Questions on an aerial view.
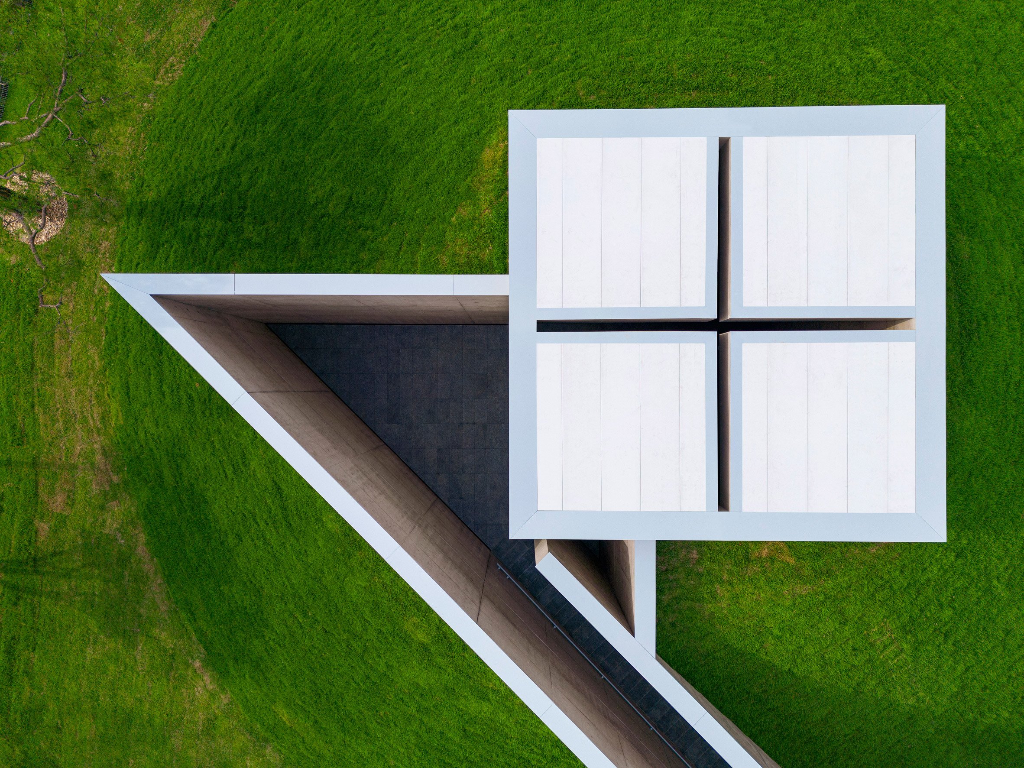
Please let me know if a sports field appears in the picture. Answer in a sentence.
No, the scene contains no sports field.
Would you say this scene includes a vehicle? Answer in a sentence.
No, I can see no vehicle in this picture.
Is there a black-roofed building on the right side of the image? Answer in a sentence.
No, no black-roofed building can be made out on the right side of the image.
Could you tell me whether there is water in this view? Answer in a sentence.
No, the scene doesn't show any water.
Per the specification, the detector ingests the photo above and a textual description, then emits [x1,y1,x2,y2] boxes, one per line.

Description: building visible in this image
[508,105,946,542]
